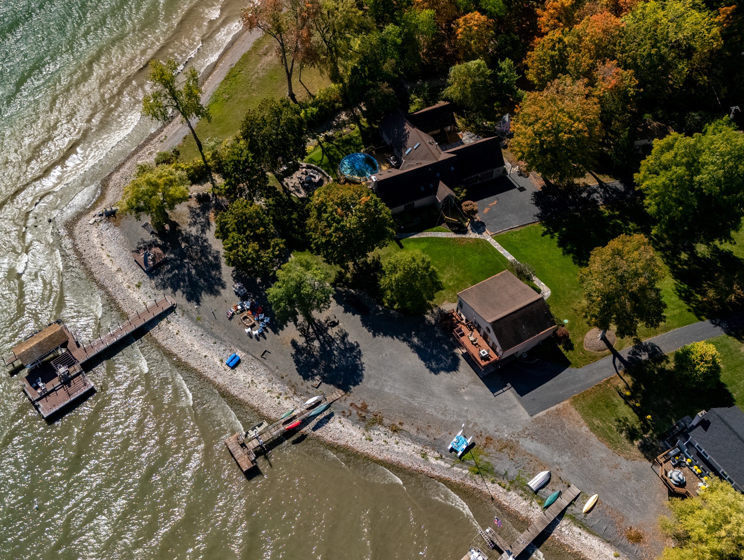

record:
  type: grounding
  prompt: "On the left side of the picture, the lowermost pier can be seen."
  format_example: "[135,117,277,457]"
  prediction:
[225,390,347,476]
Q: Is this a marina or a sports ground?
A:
marina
